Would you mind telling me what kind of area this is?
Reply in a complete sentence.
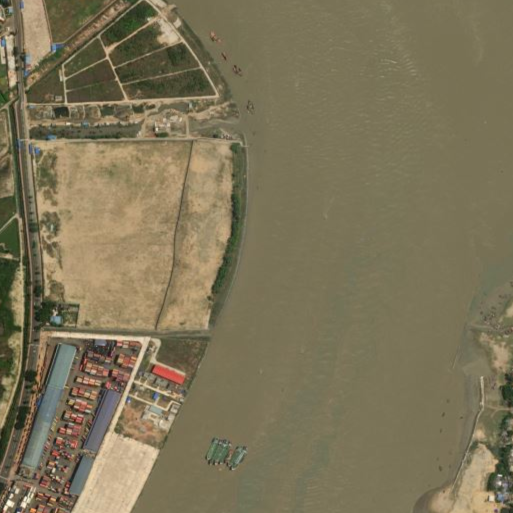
It's a port.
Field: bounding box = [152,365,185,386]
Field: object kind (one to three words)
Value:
building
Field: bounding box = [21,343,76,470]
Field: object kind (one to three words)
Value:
building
